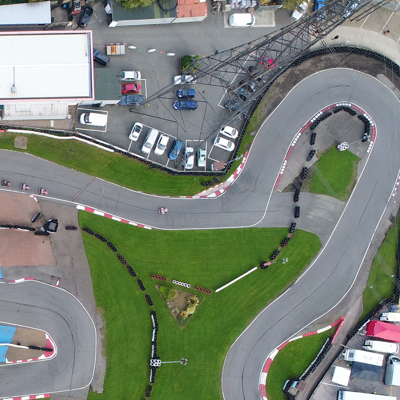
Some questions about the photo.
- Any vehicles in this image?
Yes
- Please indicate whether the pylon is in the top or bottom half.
top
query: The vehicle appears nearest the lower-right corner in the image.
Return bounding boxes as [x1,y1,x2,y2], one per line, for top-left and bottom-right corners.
[383,355,400,386]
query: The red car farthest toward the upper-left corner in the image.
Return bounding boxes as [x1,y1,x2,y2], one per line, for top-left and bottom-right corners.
[121,82,141,95]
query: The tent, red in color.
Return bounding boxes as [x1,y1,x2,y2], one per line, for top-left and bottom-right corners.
[359,320,400,342]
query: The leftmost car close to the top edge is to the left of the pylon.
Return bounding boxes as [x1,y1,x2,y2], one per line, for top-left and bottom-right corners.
[75,7,90,29]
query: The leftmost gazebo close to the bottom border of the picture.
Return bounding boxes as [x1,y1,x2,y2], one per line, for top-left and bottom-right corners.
[327,365,352,386]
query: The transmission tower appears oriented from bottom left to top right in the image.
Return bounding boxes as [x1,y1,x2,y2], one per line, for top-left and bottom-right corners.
[127,0,357,169]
